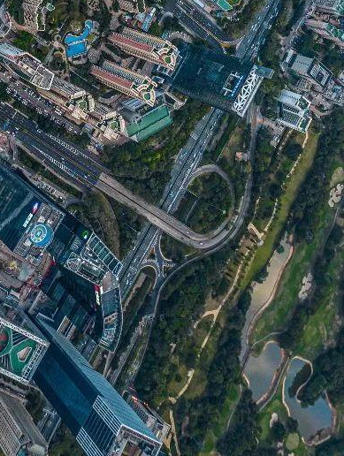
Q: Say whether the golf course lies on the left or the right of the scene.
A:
right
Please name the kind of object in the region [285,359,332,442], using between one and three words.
pond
